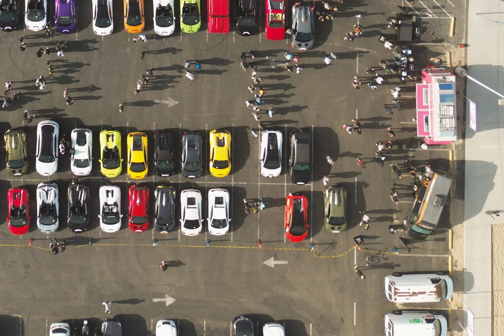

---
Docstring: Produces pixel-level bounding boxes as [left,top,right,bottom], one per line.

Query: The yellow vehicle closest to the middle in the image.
[209,129,232,176]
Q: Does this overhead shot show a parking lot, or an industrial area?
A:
parking lot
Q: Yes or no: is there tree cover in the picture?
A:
No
